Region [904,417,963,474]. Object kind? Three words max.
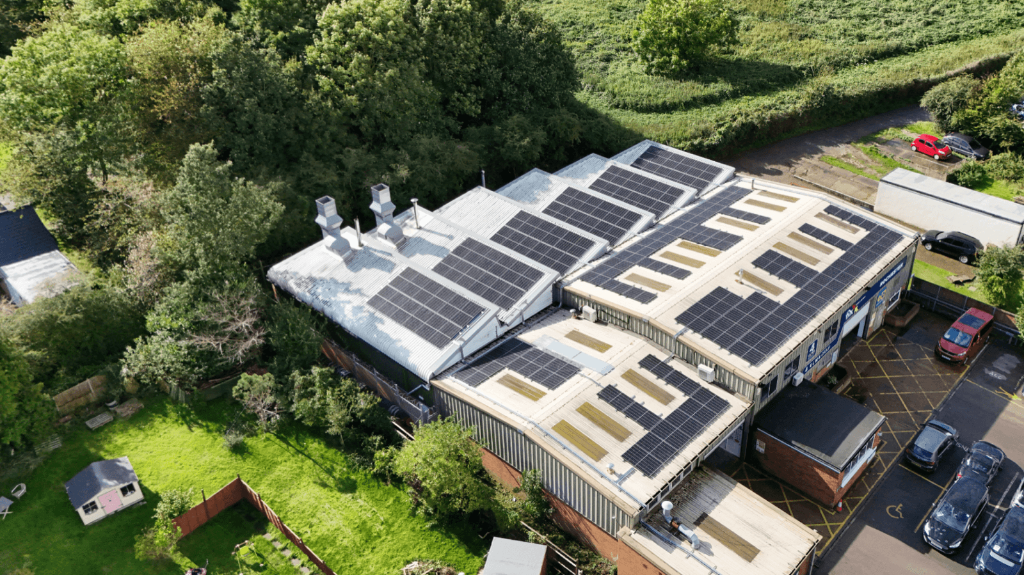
car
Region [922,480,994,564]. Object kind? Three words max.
car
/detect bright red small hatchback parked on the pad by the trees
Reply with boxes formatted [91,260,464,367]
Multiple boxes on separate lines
[911,132,956,158]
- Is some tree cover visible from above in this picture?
Yes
